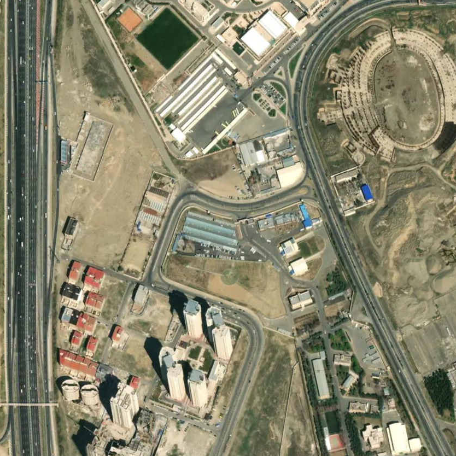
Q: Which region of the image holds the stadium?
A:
top right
